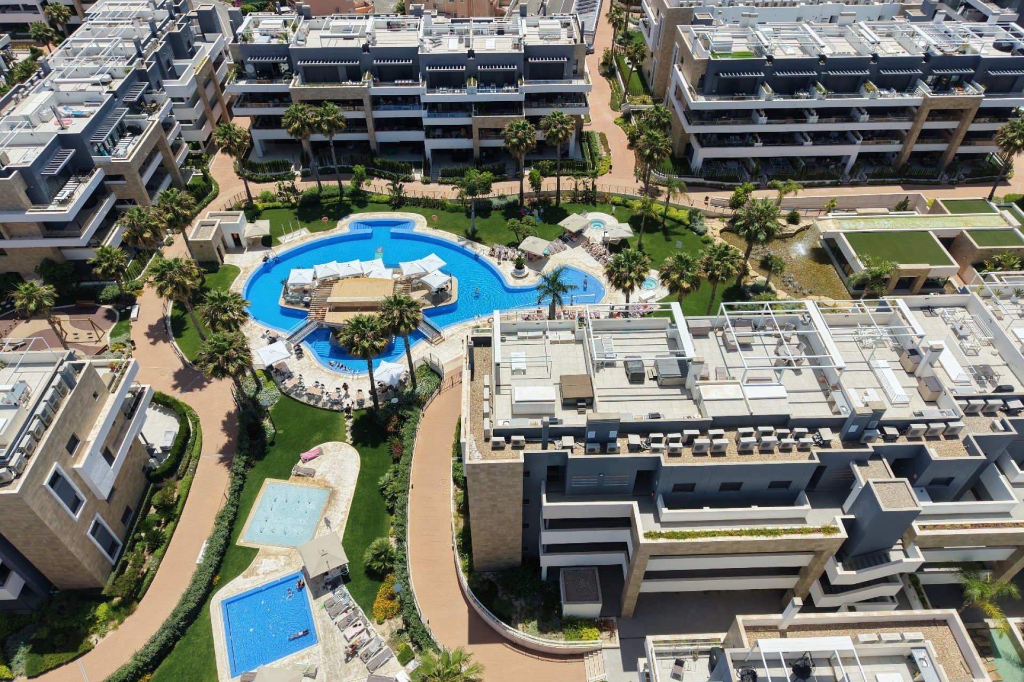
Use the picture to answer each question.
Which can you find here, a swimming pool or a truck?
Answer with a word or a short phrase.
swimming pool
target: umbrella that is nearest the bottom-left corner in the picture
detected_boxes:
[254,649,305,682]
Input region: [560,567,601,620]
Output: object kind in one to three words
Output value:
building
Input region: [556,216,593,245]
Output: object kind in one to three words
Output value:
umbrella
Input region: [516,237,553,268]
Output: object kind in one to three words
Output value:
umbrella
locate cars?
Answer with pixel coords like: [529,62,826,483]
[585,40,602,52]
